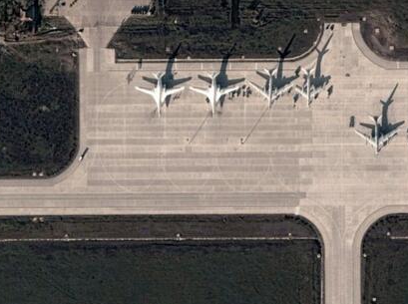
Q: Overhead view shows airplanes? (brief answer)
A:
Yes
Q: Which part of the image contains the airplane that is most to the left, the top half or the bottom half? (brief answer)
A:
top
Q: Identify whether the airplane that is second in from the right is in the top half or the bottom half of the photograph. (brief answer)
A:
top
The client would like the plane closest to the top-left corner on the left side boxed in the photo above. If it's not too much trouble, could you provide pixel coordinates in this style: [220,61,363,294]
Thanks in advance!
[134,70,184,117]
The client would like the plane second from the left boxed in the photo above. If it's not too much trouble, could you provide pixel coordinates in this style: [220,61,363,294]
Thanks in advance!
[190,71,239,117]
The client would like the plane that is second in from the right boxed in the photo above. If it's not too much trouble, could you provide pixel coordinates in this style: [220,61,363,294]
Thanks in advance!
[294,66,324,108]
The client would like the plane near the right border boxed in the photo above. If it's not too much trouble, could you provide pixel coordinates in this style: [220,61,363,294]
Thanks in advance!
[356,113,399,154]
